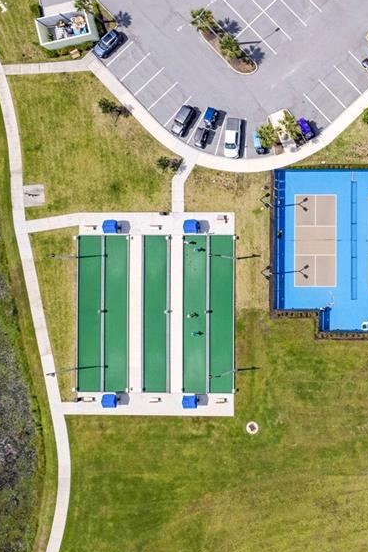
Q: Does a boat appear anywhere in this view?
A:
No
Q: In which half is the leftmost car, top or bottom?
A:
top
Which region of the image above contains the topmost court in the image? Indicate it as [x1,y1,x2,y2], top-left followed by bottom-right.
[290,195,339,287]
